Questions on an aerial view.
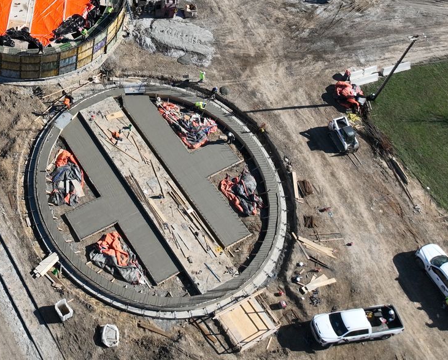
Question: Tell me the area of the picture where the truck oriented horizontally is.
bottom right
